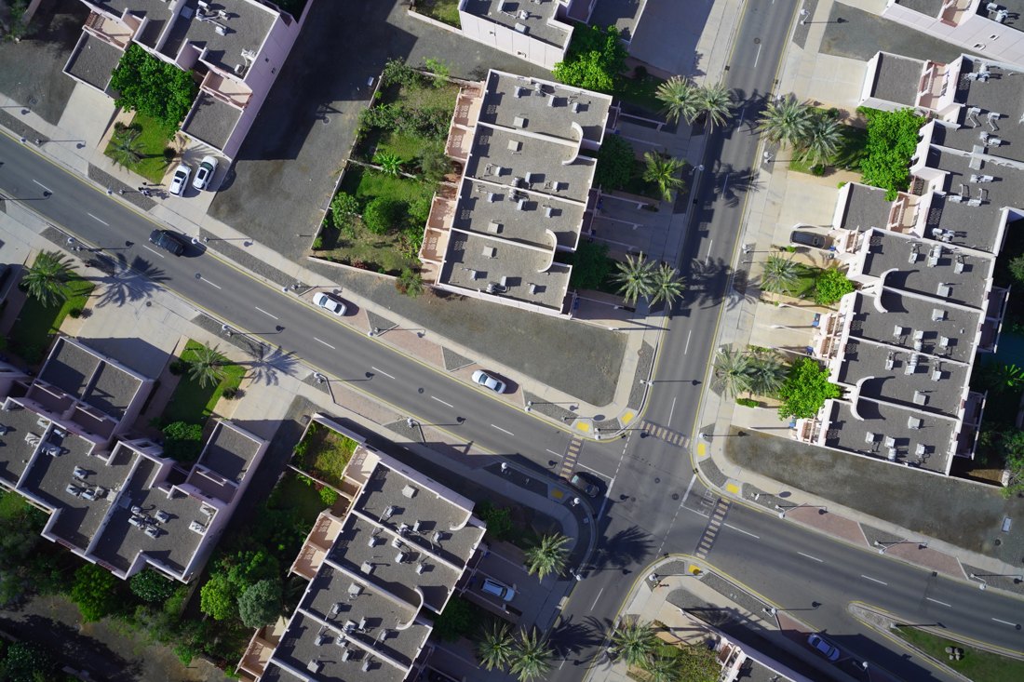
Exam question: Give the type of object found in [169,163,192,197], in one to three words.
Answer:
car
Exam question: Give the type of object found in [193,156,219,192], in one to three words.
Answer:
car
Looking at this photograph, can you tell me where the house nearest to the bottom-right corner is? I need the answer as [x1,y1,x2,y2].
[707,634,814,682]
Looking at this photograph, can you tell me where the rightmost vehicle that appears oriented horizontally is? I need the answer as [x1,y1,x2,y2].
[788,230,826,250]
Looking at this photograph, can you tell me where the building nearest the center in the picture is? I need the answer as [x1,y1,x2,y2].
[417,70,620,319]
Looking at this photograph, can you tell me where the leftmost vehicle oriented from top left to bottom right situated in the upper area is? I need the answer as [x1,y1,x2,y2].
[150,229,188,258]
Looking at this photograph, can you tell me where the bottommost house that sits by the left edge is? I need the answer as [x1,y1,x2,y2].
[0,337,272,582]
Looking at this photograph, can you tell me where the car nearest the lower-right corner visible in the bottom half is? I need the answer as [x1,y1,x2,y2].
[806,631,840,660]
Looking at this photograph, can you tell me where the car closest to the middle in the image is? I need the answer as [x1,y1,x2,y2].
[471,370,507,394]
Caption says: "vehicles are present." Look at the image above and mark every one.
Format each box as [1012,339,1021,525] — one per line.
[313,291,348,317]
[481,577,515,600]
[806,631,840,660]
[416,667,451,682]
[788,230,826,250]
[169,163,192,197]
[568,471,602,497]
[193,156,219,192]
[471,370,507,394]
[150,229,188,258]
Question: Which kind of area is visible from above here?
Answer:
residential area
